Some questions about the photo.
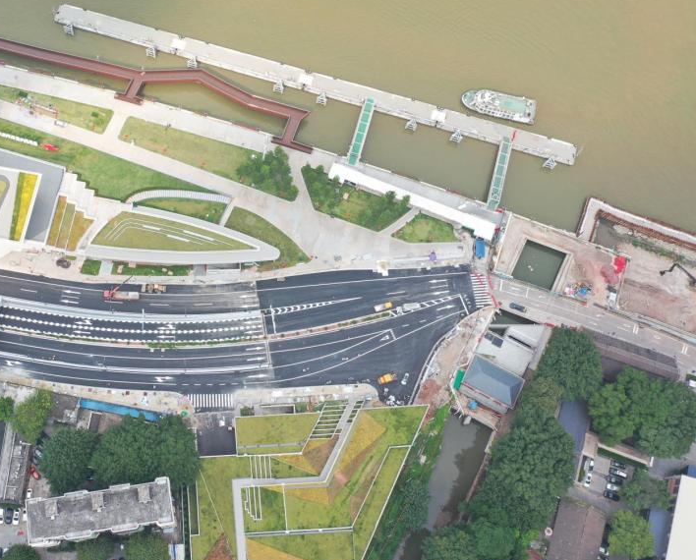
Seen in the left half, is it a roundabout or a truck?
truck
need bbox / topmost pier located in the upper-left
[55,4,184,57]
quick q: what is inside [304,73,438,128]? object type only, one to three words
pier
